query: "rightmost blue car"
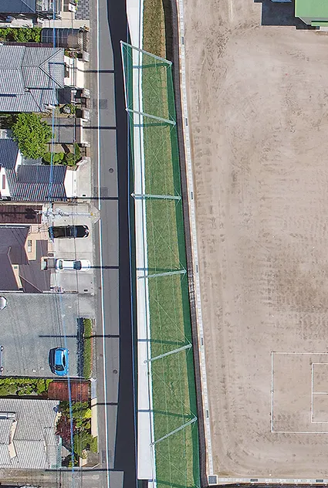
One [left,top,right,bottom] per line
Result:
[49,348,66,376]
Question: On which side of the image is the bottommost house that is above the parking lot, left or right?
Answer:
left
